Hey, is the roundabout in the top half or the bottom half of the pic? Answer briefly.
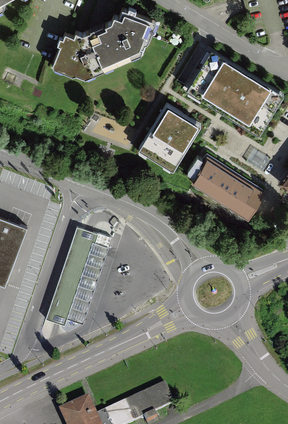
bottom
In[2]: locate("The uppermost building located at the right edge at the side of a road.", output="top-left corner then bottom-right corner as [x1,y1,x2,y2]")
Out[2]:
[187,50,284,137]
